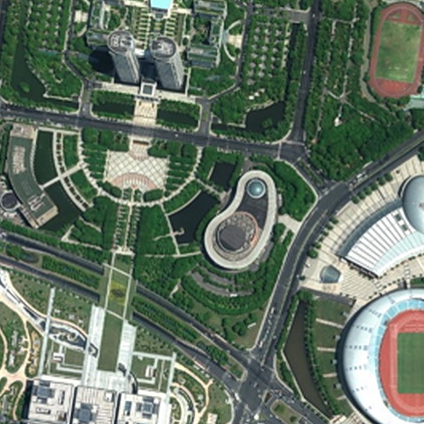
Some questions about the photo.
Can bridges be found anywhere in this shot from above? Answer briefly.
Yes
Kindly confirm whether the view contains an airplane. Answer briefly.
No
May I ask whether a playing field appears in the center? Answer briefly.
No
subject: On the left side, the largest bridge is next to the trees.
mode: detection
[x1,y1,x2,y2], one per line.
[99,258,135,322]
